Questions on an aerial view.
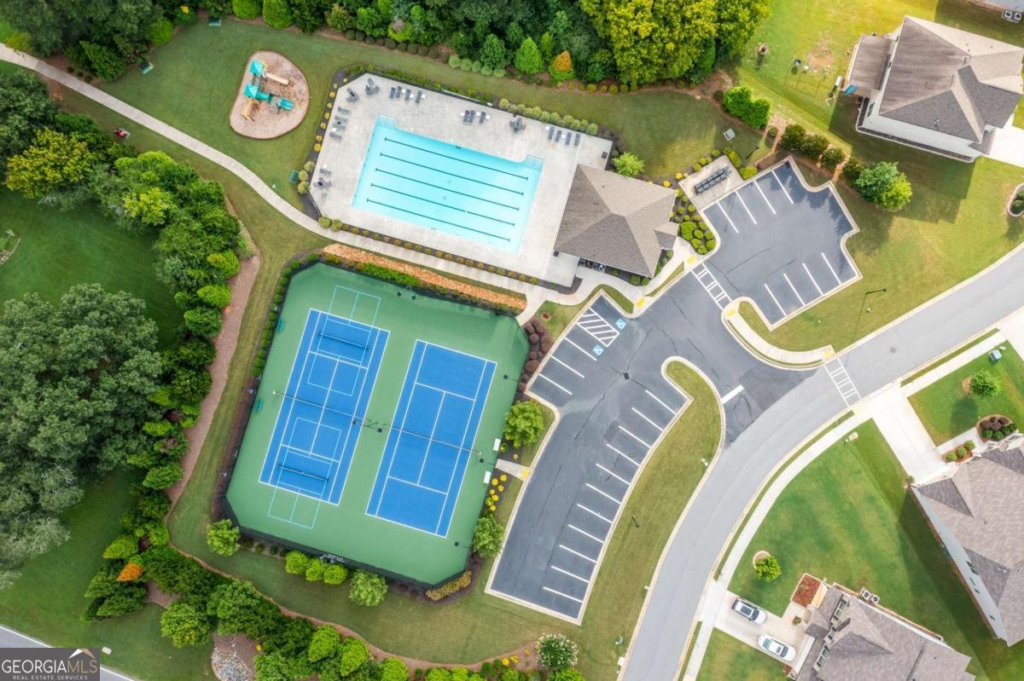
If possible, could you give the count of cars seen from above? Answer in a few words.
2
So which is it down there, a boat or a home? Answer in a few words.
home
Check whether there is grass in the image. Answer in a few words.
Yes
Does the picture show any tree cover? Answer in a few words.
Yes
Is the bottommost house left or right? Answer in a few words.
right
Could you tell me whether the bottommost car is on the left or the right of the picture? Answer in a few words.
right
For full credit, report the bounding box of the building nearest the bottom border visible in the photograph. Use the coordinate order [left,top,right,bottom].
[787,583,976,681]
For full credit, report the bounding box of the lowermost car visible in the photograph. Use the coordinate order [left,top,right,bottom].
[757,633,796,659]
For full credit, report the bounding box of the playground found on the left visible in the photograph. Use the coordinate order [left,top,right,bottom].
[240,59,295,122]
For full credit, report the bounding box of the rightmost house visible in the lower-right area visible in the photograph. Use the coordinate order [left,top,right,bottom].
[909,430,1024,646]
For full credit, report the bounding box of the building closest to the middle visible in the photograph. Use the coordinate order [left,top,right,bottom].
[554,163,679,277]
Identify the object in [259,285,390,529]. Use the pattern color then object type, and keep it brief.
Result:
blue tennis court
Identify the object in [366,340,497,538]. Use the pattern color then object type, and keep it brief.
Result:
blue tennis court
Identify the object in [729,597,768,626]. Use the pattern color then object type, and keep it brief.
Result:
white car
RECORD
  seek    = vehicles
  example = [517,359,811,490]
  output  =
[729,597,768,626]
[757,633,796,659]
